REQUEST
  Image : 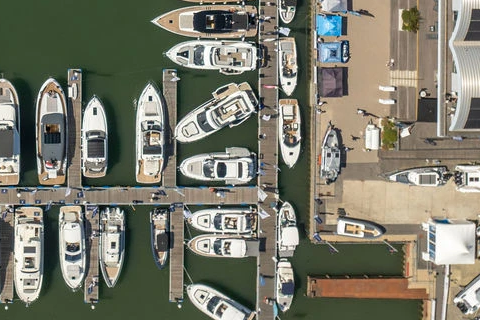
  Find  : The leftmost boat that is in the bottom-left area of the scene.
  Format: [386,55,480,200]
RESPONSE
[12,206,45,306]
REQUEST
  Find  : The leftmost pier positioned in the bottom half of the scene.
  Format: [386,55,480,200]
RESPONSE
[0,205,13,304]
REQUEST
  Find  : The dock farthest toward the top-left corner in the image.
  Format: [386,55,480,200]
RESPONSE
[68,68,82,184]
